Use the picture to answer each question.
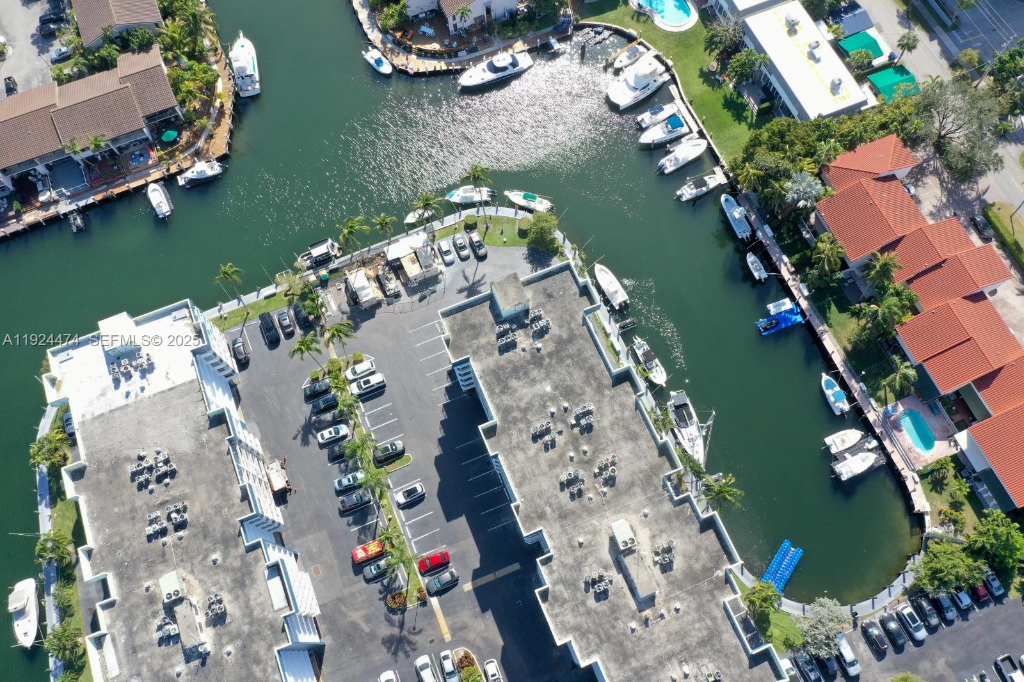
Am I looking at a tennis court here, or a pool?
pool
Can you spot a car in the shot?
Yes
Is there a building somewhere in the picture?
Yes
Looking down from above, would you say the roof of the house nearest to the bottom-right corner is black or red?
red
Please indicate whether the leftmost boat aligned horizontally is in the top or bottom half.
top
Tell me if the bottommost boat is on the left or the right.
left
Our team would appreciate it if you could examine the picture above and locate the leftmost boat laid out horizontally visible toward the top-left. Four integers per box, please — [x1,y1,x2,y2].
[182,159,227,179]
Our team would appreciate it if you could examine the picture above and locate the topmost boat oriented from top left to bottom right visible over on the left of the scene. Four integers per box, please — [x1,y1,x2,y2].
[364,46,391,75]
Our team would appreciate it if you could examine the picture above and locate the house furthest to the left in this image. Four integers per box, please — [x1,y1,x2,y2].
[0,80,74,177]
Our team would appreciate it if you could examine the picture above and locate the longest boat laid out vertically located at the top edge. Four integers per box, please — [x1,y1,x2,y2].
[232,28,263,106]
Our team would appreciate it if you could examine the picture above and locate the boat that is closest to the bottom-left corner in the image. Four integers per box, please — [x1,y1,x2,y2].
[3,570,44,648]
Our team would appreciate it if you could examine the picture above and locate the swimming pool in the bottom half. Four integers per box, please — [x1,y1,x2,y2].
[899,407,939,454]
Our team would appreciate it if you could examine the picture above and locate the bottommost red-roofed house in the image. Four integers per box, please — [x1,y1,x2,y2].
[952,400,1024,510]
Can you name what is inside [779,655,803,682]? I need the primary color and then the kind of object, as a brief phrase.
white car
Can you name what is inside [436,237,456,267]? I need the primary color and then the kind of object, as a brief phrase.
white car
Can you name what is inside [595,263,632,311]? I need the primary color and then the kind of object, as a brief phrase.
white boat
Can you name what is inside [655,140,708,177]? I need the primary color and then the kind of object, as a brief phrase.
white boat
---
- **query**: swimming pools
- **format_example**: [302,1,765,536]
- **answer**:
[632,0,692,27]
[899,407,939,454]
